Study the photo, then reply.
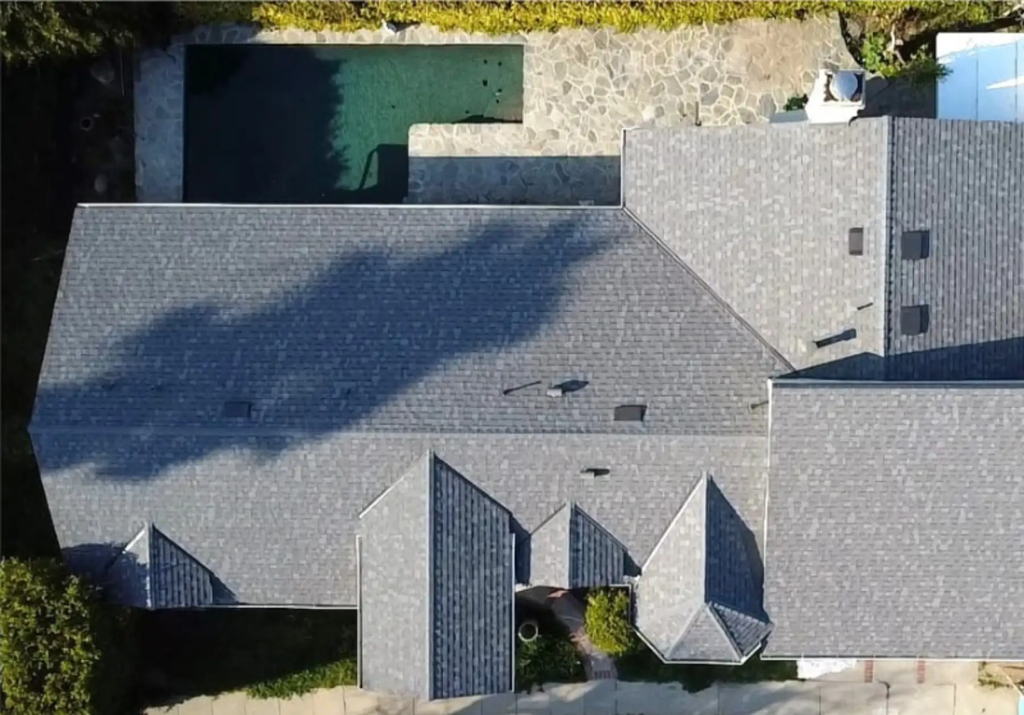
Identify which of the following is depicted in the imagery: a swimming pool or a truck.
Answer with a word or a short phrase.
swimming pool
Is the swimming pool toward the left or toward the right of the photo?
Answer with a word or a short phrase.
left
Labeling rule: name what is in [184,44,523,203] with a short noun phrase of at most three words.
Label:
swimming pool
